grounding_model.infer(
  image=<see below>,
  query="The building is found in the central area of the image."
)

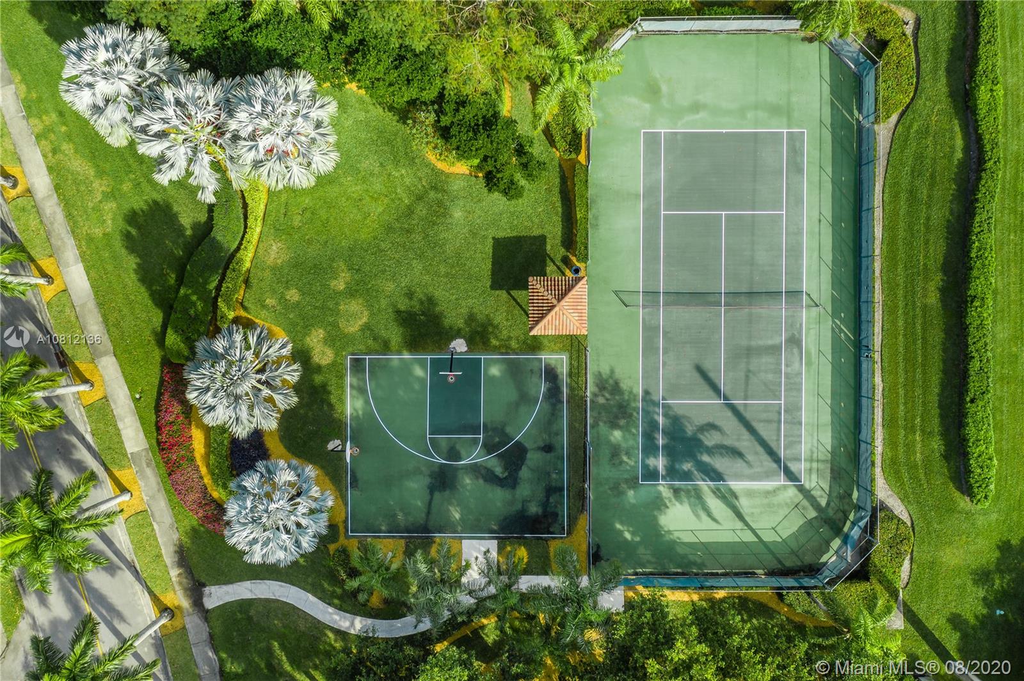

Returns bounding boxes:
[527,275,588,336]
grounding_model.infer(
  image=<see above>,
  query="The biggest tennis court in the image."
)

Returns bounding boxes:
[587,33,862,578]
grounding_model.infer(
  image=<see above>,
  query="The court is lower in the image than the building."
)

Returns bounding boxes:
[346,352,569,539]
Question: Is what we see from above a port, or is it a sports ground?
sports ground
